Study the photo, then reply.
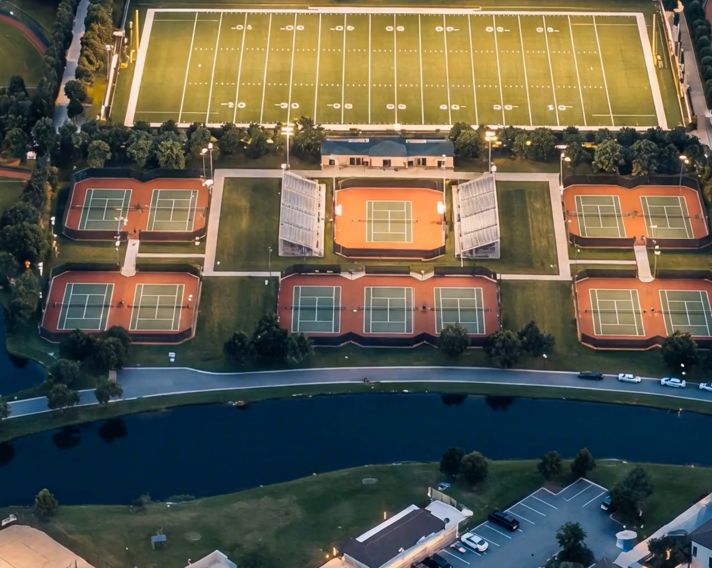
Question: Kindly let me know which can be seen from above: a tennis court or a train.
tennis court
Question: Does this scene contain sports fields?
Yes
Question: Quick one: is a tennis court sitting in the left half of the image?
Yes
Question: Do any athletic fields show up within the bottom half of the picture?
No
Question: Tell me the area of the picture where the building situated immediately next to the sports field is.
top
